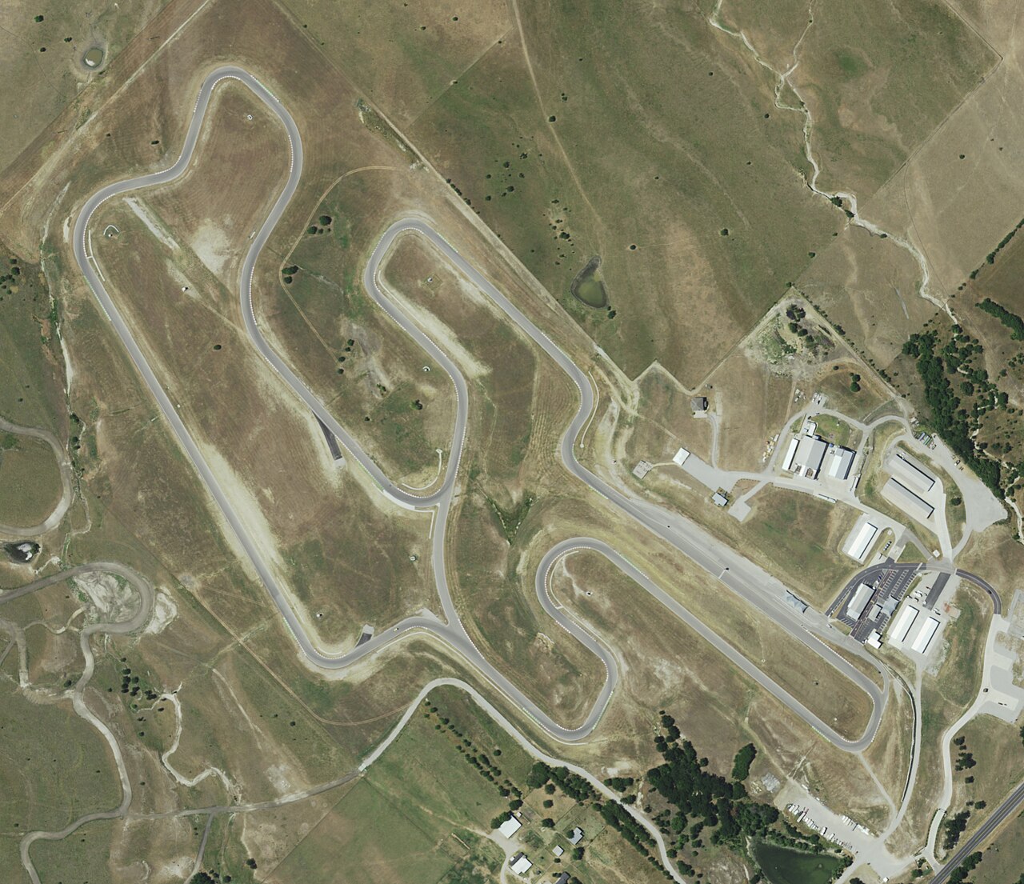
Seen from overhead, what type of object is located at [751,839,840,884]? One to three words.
pond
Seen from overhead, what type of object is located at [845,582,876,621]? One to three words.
building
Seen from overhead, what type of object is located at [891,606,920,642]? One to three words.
hangar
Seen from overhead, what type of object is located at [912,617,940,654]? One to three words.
hangar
